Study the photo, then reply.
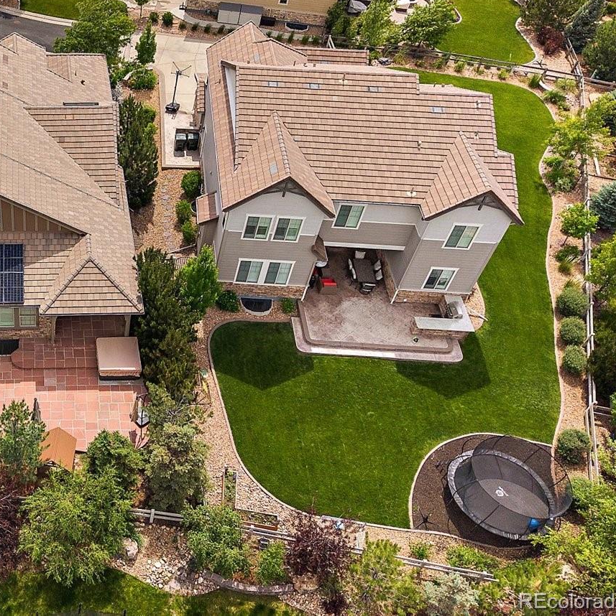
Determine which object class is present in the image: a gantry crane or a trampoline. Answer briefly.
trampoline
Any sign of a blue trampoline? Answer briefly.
No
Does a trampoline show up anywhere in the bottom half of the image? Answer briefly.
Yes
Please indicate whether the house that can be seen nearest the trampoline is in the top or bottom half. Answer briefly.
top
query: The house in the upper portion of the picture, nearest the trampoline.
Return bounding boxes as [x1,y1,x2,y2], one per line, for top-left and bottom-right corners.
[193,20,524,321]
